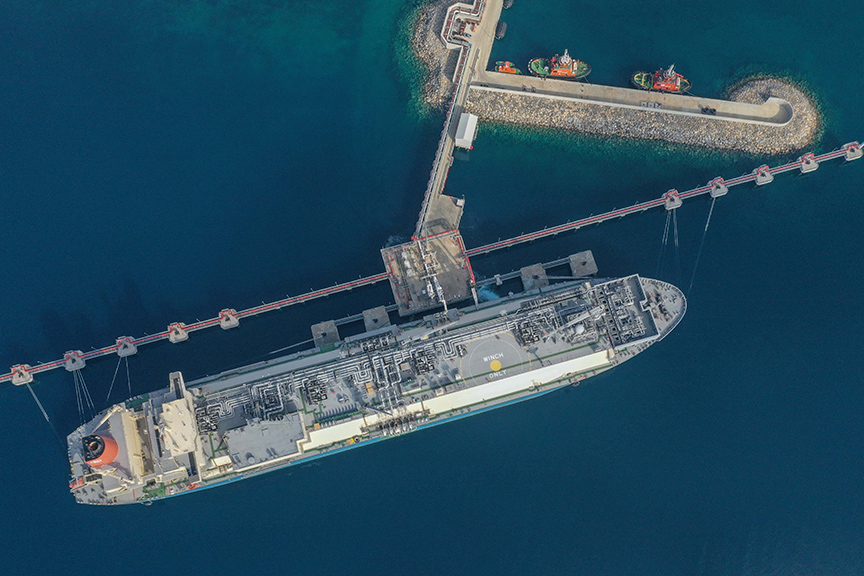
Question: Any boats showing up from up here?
Yes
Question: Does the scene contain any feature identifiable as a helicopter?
No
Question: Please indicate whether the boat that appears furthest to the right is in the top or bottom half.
top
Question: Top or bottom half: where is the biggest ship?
bottom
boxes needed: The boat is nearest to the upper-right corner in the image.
[629,67,694,94]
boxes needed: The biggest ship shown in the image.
[68,275,688,503]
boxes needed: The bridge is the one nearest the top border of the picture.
[410,83,471,242]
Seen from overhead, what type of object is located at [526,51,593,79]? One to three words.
boat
